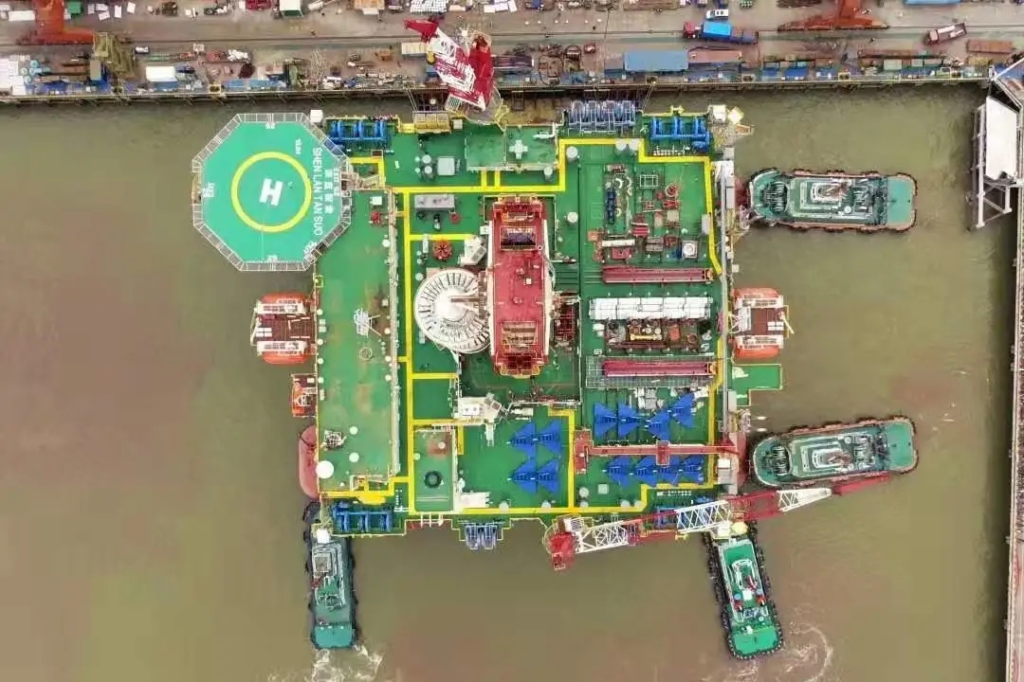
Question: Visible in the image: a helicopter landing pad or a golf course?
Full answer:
The one in the frame is a helicopter landing pad.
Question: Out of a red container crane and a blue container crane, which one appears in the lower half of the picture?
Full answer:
Visible in the lower half of the picture is a red container crane.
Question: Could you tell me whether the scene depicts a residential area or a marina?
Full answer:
It's a marina.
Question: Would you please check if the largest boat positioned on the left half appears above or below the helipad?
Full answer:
As seen from overhead, the largest boat positioned on the left half falls below the helipad in the picture.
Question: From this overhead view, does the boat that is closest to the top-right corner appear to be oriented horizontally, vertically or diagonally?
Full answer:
From this overhead view, the boat that is closest to the top-right corner appears to run horizontally.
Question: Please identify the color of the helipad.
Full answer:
The color of the helipad is green.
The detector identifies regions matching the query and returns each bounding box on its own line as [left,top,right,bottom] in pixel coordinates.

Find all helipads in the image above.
[191,112,377,271]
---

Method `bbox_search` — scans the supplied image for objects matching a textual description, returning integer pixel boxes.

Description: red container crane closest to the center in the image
[573,426,739,474]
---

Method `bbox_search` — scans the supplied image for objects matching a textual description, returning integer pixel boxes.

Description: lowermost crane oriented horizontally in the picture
[542,474,896,569]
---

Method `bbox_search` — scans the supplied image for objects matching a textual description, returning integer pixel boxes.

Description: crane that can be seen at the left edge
[26,0,93,40]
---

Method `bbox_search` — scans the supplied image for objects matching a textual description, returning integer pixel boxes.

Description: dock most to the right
[994,80,1024,682]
